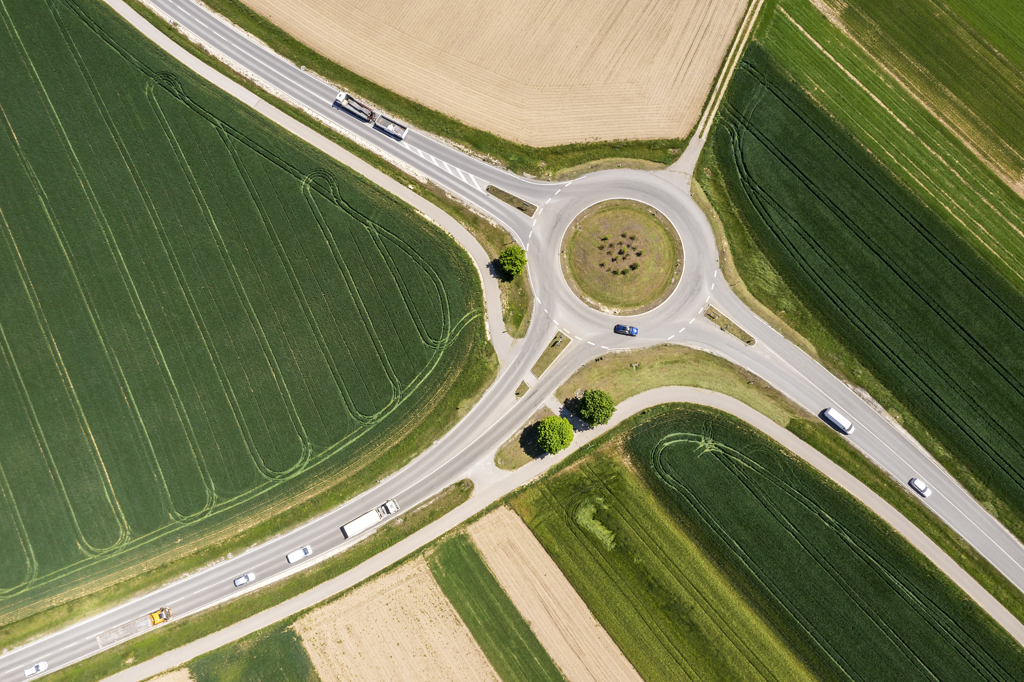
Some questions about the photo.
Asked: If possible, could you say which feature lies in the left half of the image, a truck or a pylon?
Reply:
truck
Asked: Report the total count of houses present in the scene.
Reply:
0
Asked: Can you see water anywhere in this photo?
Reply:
No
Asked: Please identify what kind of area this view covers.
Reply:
farmland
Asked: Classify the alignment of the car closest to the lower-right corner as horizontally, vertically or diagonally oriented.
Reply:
diagonally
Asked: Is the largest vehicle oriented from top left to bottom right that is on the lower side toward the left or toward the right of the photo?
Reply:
right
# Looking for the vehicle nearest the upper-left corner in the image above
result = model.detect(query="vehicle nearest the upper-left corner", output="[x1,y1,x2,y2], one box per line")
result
[332,86,377,121]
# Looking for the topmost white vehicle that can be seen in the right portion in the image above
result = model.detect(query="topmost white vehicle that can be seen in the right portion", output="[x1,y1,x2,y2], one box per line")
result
[823,408,856,433]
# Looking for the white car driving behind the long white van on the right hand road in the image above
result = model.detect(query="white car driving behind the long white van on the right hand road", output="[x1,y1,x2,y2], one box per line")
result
[908,477,933,497]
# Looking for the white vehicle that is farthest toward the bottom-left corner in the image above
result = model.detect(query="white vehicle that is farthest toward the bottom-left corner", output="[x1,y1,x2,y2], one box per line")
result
[24,662,48,679]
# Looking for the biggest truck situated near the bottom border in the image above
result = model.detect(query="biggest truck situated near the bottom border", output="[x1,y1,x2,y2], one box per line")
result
[97,605,175,648]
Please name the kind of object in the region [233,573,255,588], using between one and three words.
car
